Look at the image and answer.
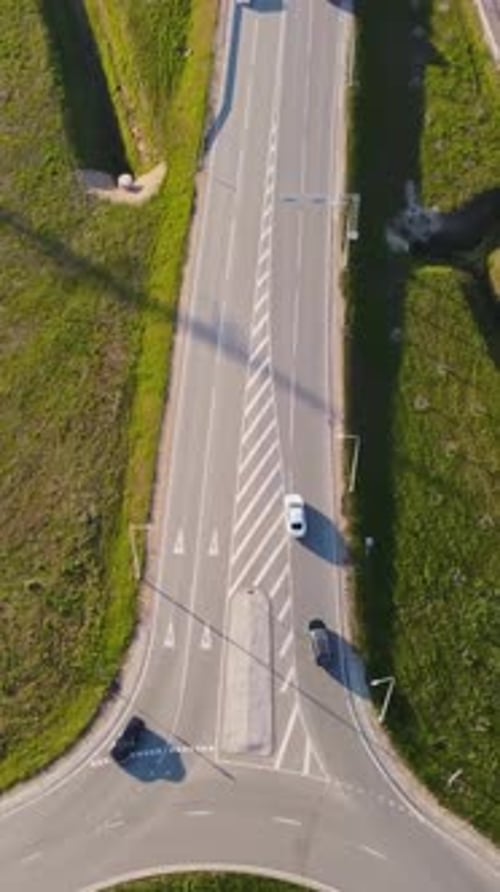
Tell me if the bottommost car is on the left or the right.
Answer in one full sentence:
The bottommost car is on the left side of the image.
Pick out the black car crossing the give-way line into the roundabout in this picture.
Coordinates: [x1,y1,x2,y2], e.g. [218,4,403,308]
[107,714,148,771]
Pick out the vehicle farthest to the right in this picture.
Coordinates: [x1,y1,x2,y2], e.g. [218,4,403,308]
[308,622,335,671]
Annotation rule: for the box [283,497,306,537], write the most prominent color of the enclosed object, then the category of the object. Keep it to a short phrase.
white car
